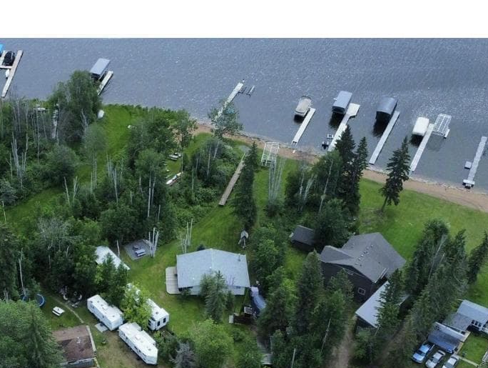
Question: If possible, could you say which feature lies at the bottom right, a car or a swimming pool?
car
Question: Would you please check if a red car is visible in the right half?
No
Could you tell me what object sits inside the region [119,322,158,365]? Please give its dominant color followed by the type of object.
white trailer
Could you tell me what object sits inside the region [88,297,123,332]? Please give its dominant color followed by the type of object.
white trailer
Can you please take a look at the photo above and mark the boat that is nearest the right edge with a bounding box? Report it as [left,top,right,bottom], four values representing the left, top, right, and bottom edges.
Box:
[413,116,428,133]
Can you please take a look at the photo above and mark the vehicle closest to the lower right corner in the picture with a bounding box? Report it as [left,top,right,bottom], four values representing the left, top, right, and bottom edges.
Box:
[441,354,460,368]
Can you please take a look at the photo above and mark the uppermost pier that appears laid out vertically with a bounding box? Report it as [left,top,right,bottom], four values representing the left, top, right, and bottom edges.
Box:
[0,50,25,98]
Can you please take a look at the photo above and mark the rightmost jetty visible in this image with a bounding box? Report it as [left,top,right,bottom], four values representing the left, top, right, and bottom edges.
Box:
[462,137,488,188]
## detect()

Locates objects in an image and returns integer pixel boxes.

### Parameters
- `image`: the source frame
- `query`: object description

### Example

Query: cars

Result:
[441,354,460,368]
[413,339,435,361]
[426,348,447,368]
